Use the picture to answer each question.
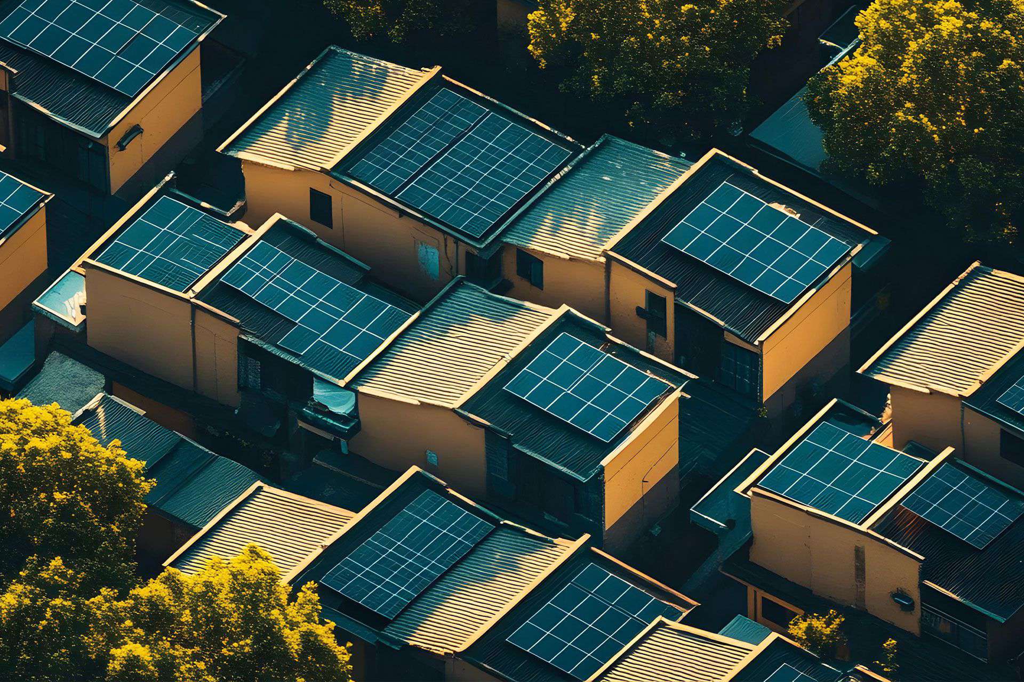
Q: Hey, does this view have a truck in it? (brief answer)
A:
No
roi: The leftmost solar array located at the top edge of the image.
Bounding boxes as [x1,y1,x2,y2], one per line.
[3,0,206,96]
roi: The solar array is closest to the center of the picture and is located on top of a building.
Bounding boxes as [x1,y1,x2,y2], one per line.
[505,330,672,442]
